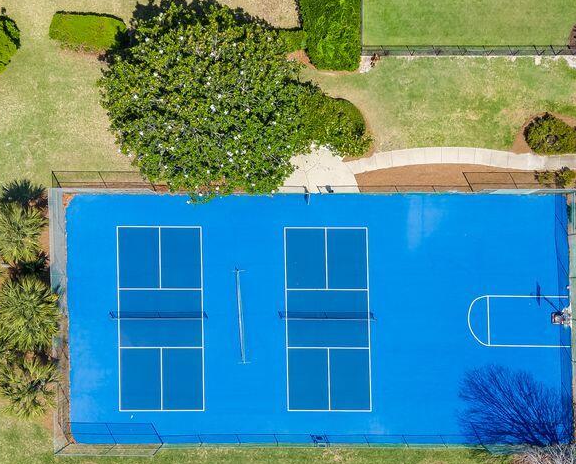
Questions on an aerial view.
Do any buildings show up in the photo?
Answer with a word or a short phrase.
No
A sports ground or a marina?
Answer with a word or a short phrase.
sports ground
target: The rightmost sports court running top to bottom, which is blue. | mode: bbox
[284,227,372,412]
